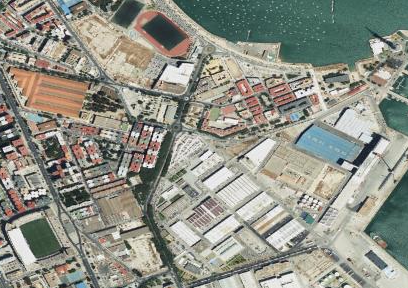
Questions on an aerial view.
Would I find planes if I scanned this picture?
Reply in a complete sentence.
No, there is no plane in the image.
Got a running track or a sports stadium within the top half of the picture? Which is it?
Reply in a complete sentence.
There is a running track within the top half of the picture.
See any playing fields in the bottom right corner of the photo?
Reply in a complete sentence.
No, no playing field can be made out in the bottom right corner of the photo.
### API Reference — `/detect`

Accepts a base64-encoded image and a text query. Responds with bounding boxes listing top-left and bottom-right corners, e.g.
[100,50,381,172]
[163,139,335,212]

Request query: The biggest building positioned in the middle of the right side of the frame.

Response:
[295,125,365,164]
